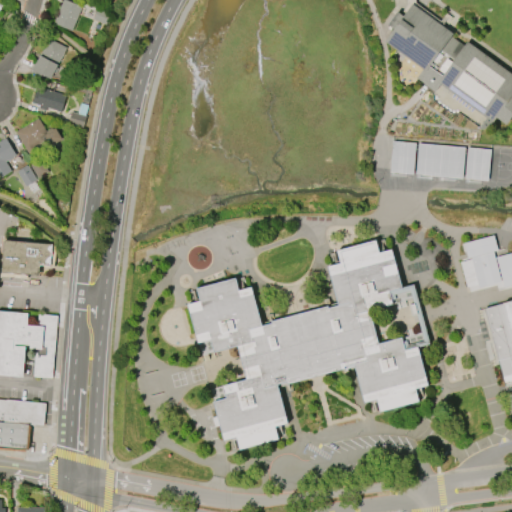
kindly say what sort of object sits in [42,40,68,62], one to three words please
house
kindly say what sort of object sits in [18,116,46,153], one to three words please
house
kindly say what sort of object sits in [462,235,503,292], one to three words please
building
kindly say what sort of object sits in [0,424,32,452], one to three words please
building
